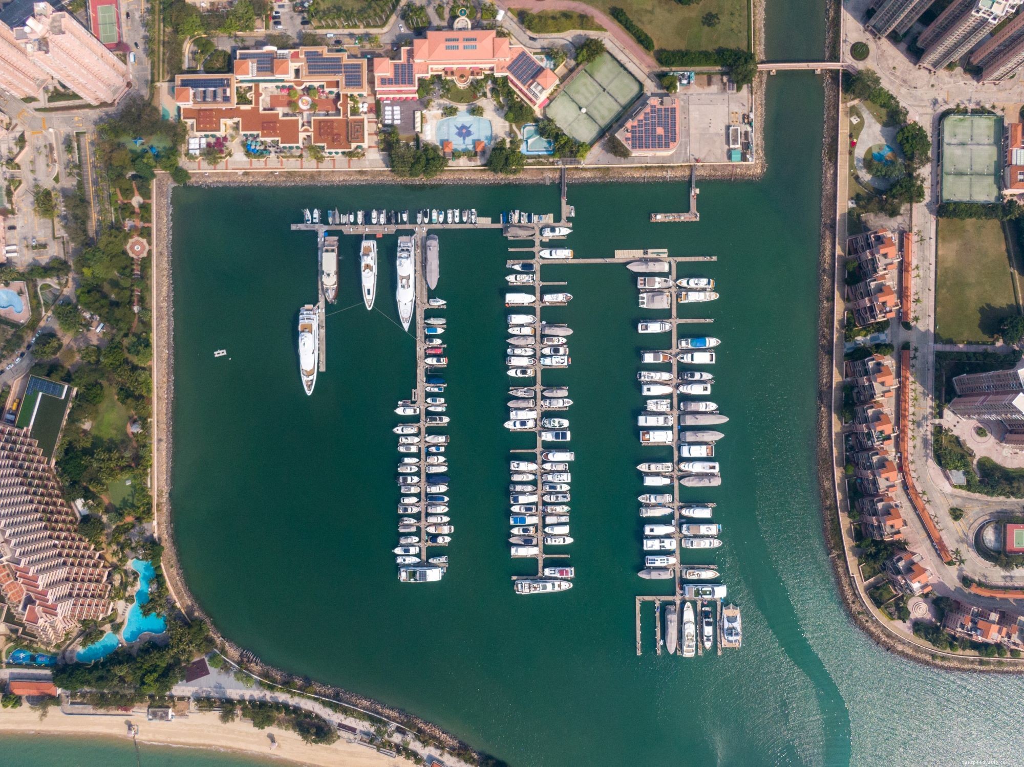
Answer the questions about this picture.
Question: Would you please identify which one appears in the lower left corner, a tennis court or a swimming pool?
swimming pool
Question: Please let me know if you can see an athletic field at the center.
No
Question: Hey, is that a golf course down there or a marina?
marina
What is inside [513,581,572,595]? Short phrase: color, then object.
white boat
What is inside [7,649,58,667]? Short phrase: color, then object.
blue swimming pool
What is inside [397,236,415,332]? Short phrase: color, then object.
white boat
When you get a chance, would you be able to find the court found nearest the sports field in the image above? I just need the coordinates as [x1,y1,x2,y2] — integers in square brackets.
[942,174,1003,201]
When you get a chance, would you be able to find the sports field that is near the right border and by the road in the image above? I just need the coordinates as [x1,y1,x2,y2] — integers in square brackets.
[935,215,1017,342]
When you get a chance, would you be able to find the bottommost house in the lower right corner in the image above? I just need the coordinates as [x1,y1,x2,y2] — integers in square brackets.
[949,608,1024,653]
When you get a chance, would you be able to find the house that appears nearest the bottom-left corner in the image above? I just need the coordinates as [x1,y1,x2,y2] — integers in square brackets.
[9,679,60,697]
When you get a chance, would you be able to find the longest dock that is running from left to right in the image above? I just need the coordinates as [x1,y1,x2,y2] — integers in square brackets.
[291,197,572,234]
